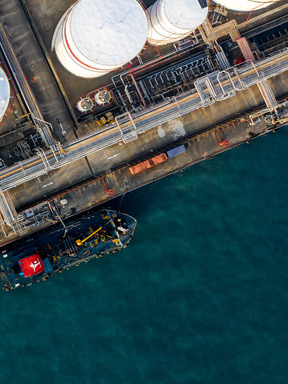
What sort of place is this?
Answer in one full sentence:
The picture captures an industrial area.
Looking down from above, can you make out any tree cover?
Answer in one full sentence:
No, no tree cover is visible.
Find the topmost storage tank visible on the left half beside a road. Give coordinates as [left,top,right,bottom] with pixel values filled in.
[52,0,152,85]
